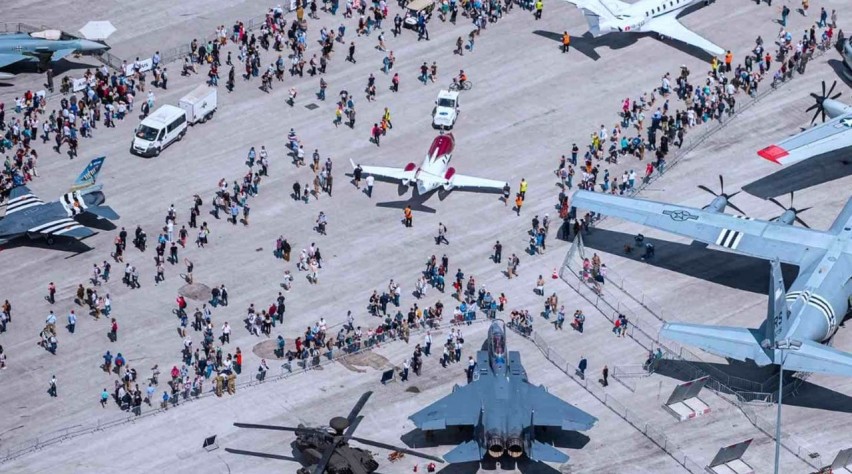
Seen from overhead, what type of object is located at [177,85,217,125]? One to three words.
trailer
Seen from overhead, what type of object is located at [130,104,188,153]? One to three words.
vehicle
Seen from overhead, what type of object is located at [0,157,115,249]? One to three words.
airplane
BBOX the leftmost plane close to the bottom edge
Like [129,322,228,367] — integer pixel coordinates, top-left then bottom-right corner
[407,313,599,464]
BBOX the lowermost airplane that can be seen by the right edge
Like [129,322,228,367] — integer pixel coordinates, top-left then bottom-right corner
[566,173,852,385]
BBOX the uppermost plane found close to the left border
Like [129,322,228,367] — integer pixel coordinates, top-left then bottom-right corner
[0,27,114,74]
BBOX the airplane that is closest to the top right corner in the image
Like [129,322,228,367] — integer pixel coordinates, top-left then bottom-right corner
[759,44,852,169]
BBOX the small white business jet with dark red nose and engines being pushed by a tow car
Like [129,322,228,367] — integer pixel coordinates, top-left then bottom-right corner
[346,130,512,199]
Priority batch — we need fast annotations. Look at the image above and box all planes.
[566,173,852,385]
[407,313,599,464]
[346,130,512,199]
[0,157,115,249]
[0,27,114,74]
[566,0,726,53]
[759,44,852,169]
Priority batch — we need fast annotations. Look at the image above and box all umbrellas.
[80,22,118,47]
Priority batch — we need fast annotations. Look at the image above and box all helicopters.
[238,388,439,474]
